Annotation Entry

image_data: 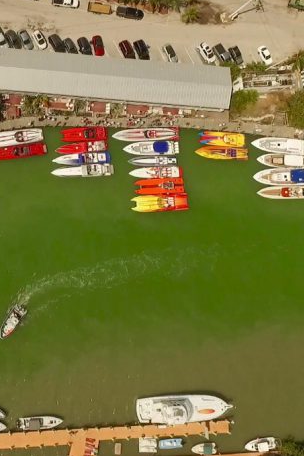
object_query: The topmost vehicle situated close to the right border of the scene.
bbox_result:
[284,0,304,13]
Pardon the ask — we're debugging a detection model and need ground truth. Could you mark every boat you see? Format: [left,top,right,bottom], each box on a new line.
[158,438,189,451]
[60,127,109,142]
[134,394,233,434]
[111,127,181,140]
[255,154,304,168]
[50,163,115,177]
[133,176,186,192]
[129,193,191,212]
[193,146,250,160]
[243,436,285,453]
[255,185,304,199]
[0,128,46,149]
[0,306,25,339]
[251,167,304,186]
[249,137,304,155]
[51,151,113,165]
[127,155,180,166]
[197,130,248,147]
[0,143,49,160]
[189,441,218,456]
[16,416,64,431]
[122,139,181,155]
[55,140,109,154]
[128,165,185,177]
